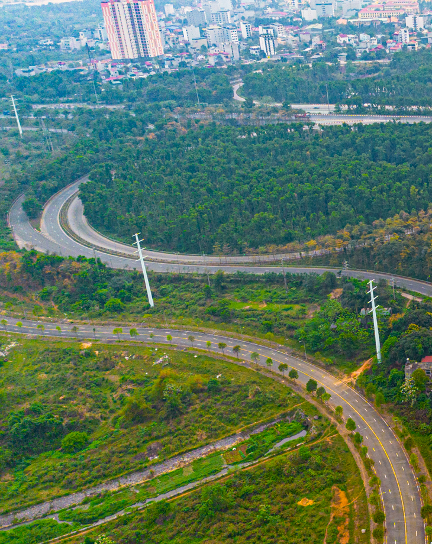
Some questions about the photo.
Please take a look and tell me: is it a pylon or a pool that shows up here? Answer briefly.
pylon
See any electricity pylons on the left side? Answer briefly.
Yes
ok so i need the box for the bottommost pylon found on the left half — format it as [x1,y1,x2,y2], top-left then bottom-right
[132,232,157,306]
